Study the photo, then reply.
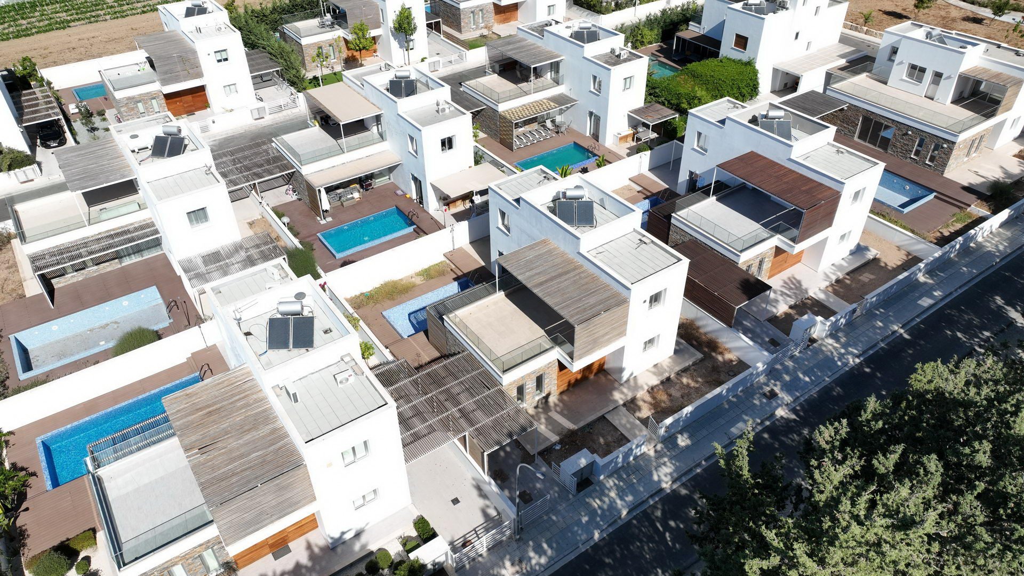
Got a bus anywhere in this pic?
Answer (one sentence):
No, no bus can be seen from above.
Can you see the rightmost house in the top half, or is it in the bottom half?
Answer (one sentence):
The rightmost house sits in the top half of the picture.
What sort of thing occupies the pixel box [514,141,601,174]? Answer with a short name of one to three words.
swimming pool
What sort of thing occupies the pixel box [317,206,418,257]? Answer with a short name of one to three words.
swimming pool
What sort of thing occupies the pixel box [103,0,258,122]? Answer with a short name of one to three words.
house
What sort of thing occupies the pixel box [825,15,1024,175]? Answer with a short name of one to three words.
house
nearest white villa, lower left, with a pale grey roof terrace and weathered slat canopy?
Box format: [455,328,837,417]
[91,257,414,576]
